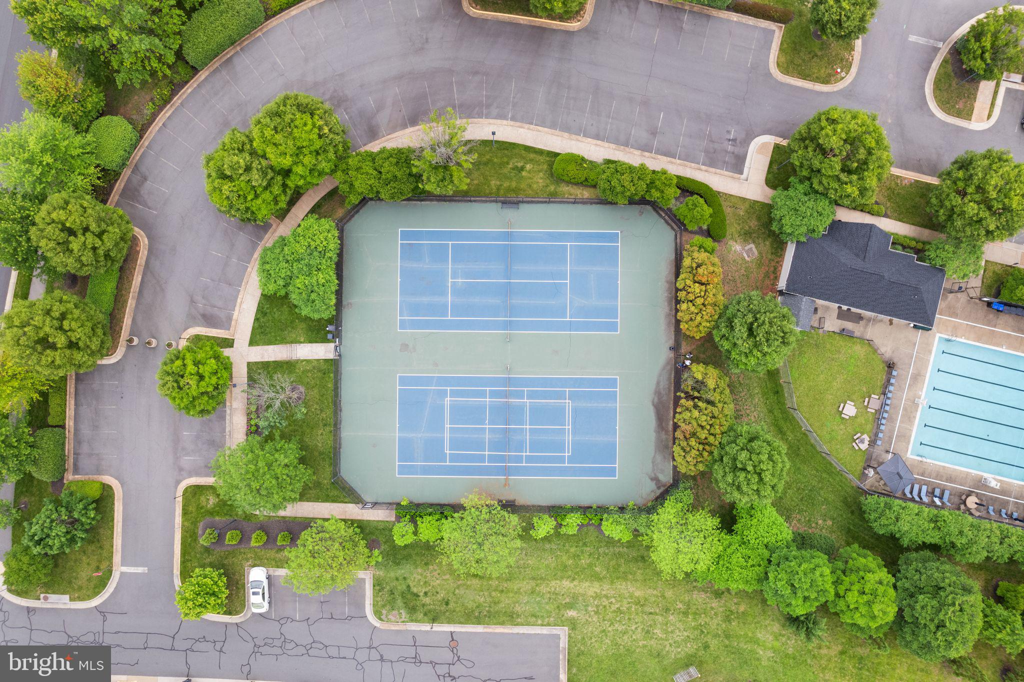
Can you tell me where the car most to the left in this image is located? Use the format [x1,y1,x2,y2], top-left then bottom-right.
[247,567,270,614]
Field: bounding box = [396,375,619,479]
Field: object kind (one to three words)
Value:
tennis court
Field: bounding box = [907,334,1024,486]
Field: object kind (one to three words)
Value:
swimming pool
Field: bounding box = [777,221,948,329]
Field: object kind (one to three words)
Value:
building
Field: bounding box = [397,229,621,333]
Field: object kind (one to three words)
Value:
tennis court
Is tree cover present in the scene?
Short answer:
Yes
